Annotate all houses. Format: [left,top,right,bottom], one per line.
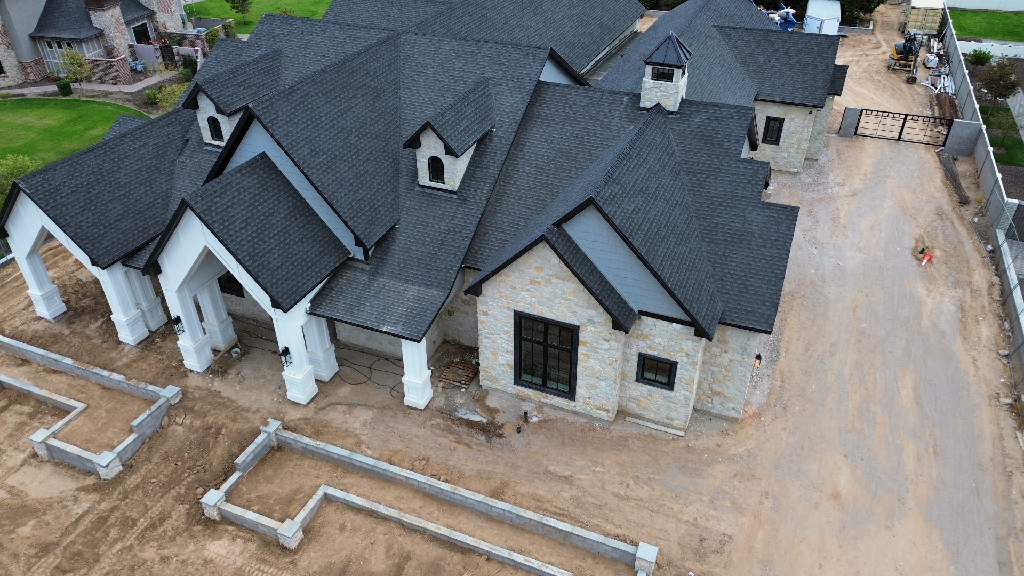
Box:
[0,0,849,433]
[0,0,233,89]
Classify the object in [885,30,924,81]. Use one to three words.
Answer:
work vehicle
